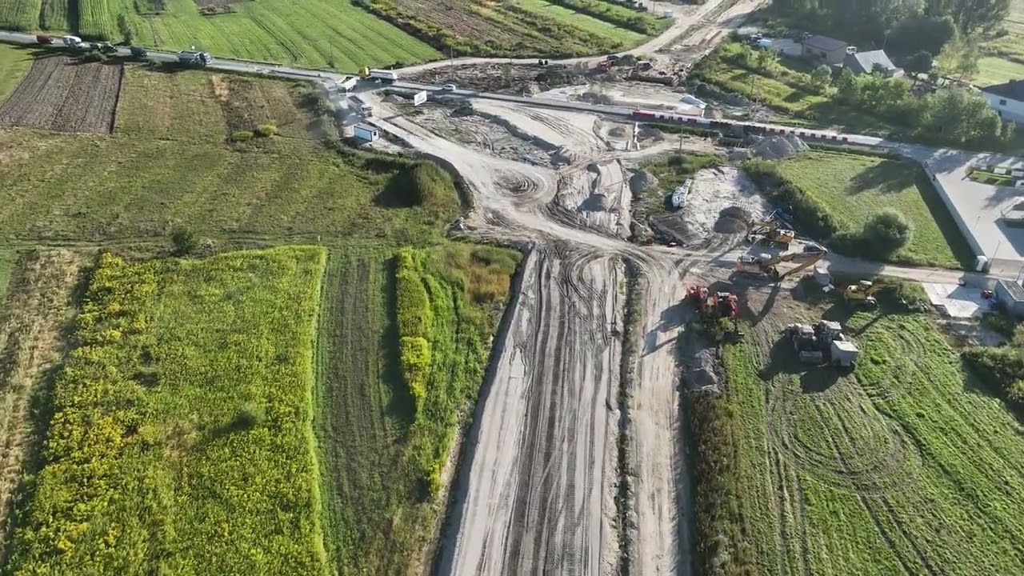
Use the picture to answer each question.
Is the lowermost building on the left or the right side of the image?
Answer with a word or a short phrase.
right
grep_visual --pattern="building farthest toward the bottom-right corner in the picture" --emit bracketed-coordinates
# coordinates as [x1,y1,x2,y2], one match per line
[994,277,1024,320]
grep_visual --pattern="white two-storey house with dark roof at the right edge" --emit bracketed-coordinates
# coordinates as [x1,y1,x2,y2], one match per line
[987,75,1024,119]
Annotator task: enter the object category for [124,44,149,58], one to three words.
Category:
vehicle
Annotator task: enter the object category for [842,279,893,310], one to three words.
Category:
work vehicle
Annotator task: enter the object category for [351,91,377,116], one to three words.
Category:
truck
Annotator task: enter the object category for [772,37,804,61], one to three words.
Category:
shed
